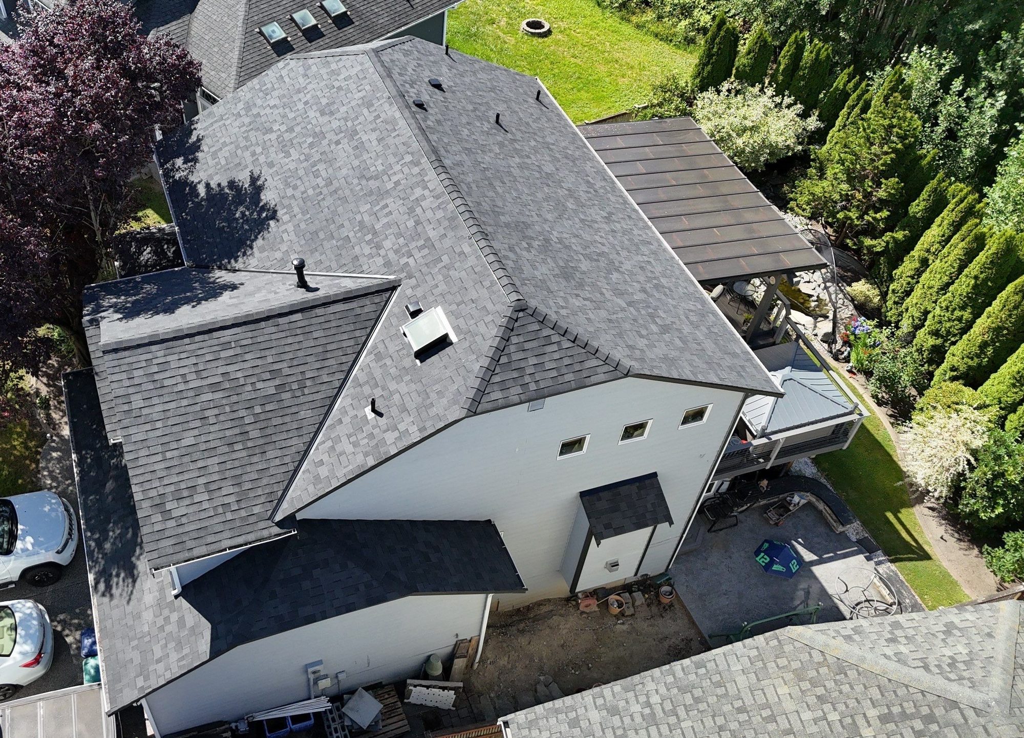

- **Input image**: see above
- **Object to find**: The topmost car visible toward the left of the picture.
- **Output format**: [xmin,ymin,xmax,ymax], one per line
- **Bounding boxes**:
[0,490,81,596]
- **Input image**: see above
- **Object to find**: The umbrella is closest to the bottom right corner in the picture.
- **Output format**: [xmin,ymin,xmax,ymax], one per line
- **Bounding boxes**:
[748,536,798,586]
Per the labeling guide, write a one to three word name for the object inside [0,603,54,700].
car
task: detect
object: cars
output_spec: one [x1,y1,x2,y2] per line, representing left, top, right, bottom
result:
[0,603,54,700]
[0,490,81,596]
